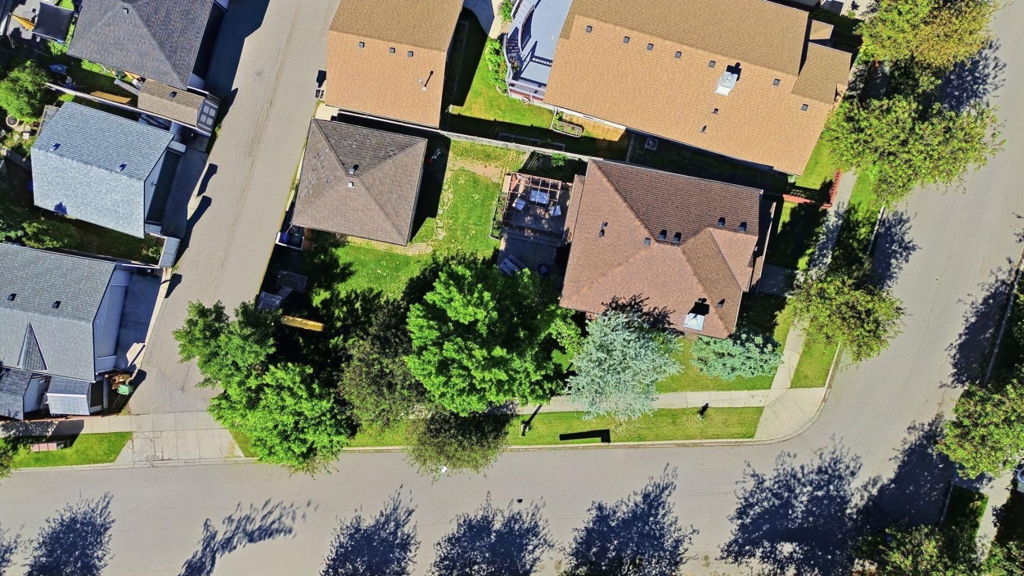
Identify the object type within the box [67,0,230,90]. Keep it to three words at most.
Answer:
building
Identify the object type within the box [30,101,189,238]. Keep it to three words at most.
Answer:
building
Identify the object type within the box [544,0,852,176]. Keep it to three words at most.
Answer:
house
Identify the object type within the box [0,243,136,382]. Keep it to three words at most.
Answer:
house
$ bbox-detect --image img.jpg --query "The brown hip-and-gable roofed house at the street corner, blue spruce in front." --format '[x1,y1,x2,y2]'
[562,158,776,335]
